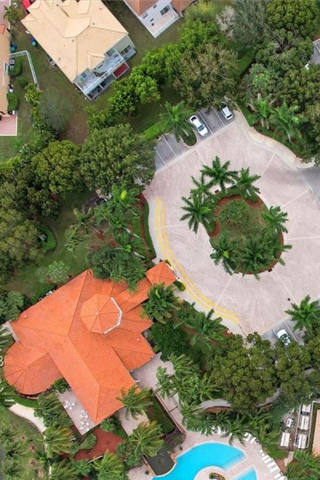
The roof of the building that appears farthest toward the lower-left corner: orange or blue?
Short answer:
orange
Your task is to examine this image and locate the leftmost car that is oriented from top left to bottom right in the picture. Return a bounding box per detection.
[189,114,207,135]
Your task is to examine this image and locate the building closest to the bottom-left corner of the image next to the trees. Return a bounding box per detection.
[3,261,182,424]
